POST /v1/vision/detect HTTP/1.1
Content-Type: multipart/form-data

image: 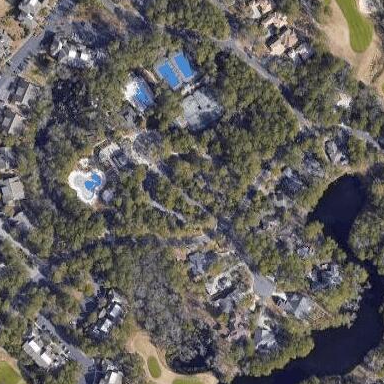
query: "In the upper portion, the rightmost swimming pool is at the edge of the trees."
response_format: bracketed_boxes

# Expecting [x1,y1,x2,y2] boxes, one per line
[126,77,155,112]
